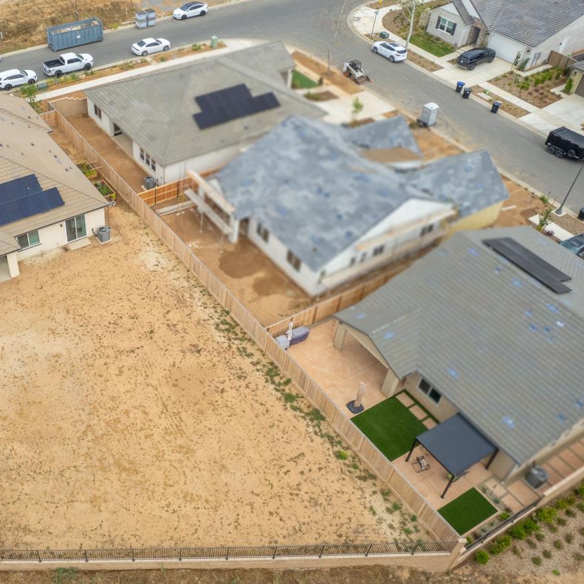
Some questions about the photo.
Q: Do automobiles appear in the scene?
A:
Yes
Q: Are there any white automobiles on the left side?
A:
Yes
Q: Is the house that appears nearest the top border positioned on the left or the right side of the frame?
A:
right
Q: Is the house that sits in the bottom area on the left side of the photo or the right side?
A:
right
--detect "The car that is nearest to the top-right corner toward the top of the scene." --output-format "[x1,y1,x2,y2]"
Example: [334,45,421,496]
[459,45,499,68]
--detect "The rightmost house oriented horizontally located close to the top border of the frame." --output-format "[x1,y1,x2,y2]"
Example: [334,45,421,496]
[413,0,584,69]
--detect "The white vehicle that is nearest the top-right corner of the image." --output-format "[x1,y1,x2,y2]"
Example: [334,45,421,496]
[370,39,409,61]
